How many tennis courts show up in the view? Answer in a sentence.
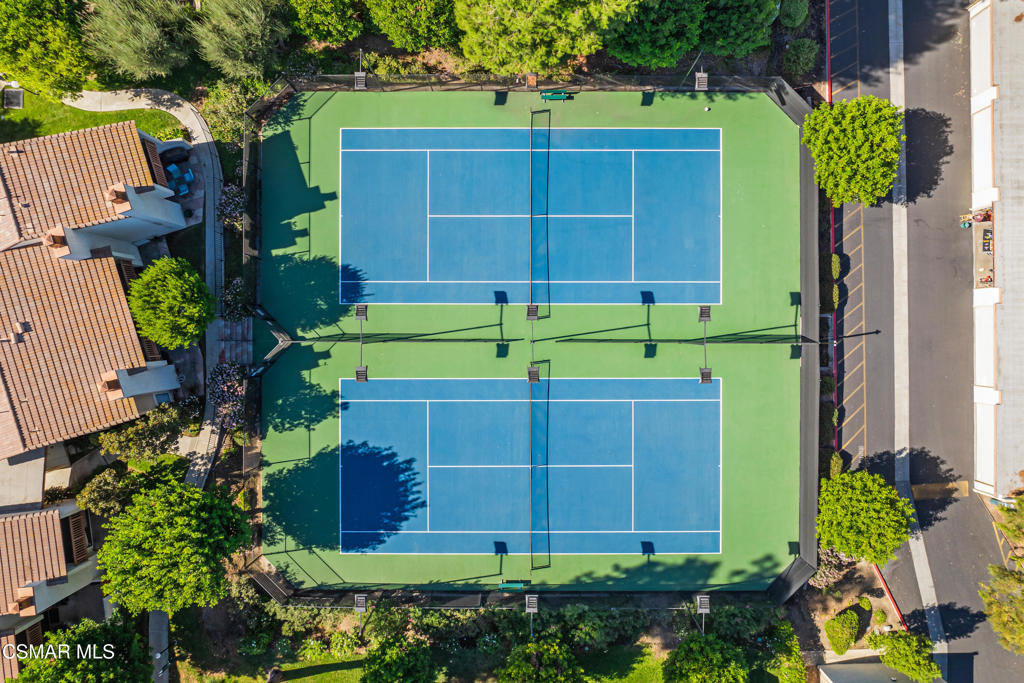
There are 2 tennis courts in the image.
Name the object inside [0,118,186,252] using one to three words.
house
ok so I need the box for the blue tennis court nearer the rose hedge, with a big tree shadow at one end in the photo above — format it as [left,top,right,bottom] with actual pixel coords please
[256,342,800,591]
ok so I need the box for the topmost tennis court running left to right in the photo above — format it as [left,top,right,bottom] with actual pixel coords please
[256,91,801,342]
